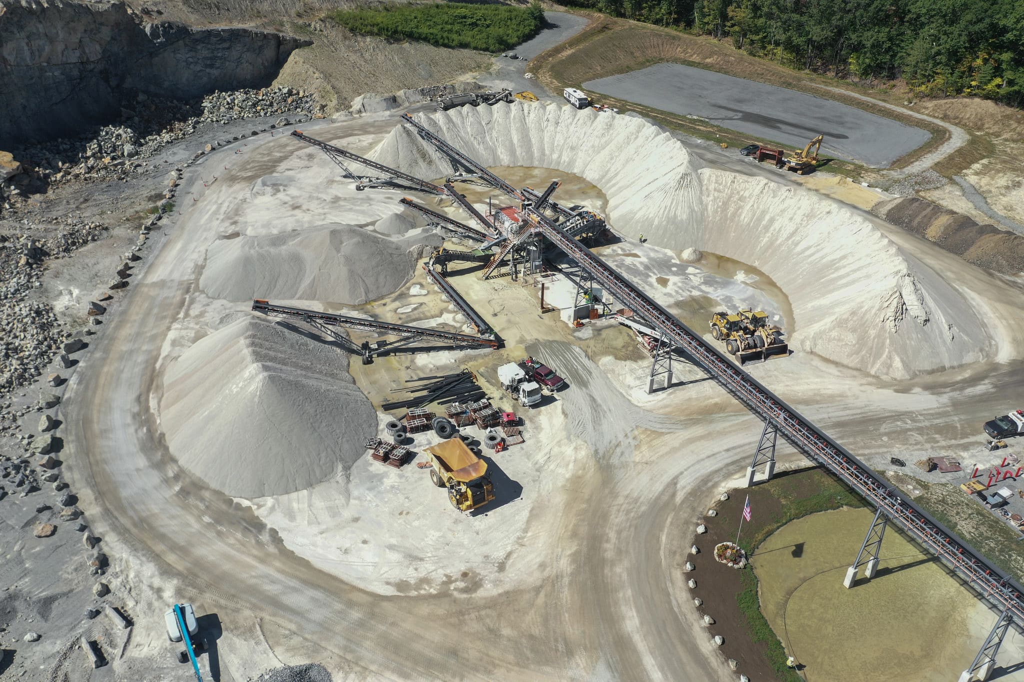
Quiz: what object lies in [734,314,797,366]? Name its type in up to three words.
work vehicle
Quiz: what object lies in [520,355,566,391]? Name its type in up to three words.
truck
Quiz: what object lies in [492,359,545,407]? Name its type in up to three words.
truck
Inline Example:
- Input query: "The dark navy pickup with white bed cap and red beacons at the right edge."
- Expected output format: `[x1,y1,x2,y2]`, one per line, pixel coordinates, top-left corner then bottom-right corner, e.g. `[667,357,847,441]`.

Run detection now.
[985,411,1024,440]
